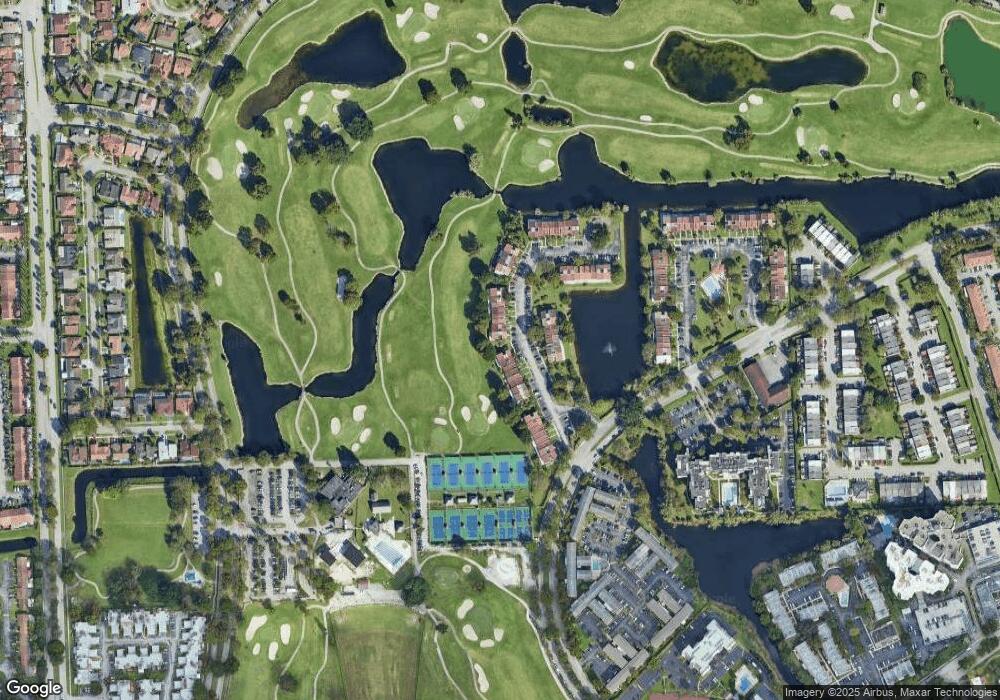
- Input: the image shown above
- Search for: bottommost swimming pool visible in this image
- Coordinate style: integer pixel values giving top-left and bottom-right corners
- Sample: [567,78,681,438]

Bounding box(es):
[736,665,758,694]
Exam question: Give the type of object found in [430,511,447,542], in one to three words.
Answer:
tennis court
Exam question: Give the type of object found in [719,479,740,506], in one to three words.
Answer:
swimming pool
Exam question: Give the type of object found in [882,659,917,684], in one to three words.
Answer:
building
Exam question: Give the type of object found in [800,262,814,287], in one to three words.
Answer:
house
